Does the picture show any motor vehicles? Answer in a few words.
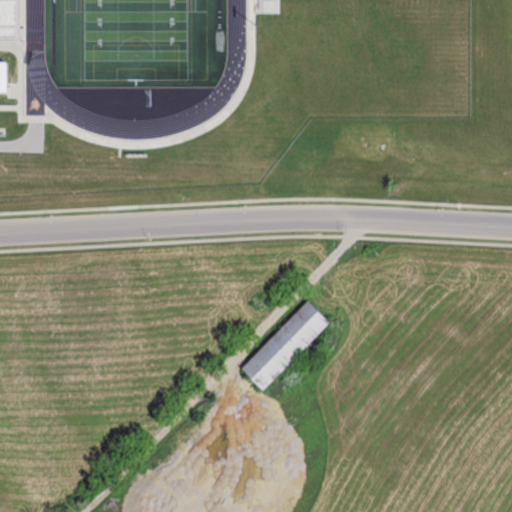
No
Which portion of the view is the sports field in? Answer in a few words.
top left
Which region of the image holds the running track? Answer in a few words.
top left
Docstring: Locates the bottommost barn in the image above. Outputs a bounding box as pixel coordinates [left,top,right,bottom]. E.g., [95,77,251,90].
[241,302,329,390]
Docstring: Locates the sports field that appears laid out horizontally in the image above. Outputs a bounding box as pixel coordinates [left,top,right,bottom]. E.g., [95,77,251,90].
[46,0,227,86]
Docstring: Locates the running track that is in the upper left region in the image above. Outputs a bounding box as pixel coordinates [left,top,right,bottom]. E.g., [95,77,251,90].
[27,0,246,138]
